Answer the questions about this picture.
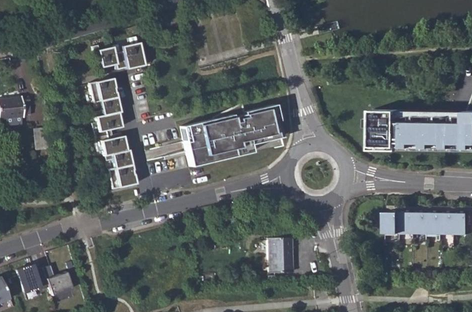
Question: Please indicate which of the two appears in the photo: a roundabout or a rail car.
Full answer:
There is a roundabout in the scene.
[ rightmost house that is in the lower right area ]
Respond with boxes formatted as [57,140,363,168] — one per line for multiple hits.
[404,213,466,241]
